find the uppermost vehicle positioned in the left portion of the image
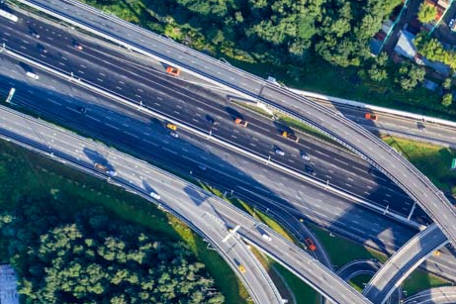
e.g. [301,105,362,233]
[0,7,22,21]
